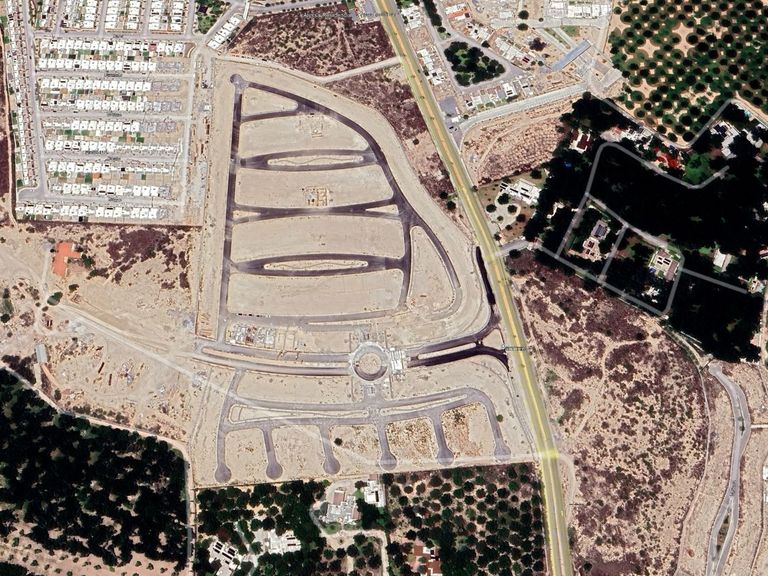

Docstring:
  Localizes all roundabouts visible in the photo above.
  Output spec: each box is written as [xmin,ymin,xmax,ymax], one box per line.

[351,344,390,383]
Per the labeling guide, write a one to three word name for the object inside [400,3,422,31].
house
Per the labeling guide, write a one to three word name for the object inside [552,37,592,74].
building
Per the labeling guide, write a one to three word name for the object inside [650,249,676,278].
house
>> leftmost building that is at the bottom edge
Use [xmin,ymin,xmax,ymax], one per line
[209,541,240,572]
